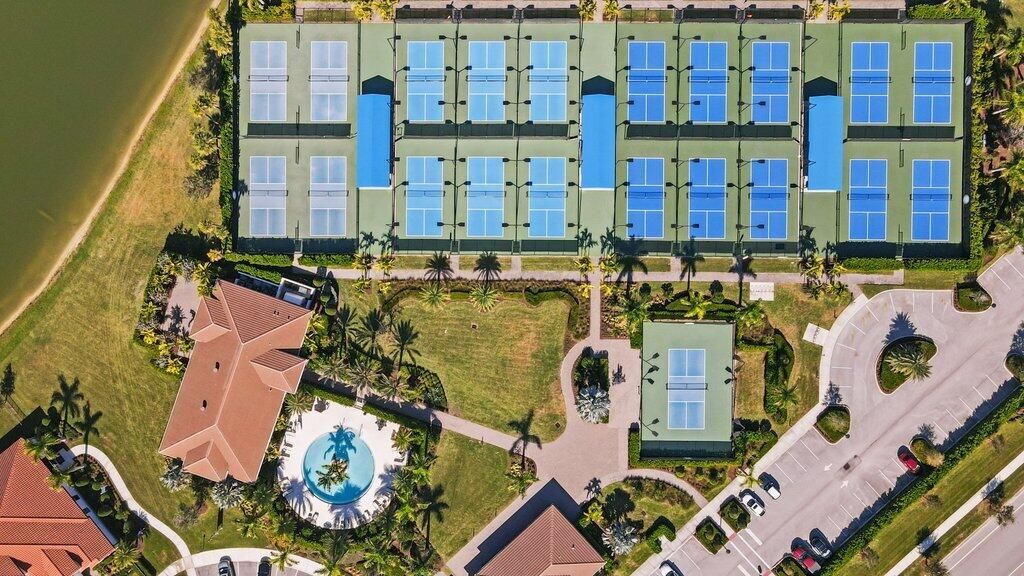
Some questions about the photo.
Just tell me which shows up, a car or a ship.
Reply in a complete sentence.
There is a car in the scene.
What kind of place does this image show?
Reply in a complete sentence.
The picture captures a sports ground.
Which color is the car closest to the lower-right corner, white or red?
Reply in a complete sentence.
From above, the car closest to the lower-right corner appears red.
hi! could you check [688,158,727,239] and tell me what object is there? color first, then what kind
blue sports court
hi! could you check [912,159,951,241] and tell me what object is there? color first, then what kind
blue sports court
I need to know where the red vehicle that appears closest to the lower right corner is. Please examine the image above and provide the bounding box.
[895,448,922,475]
